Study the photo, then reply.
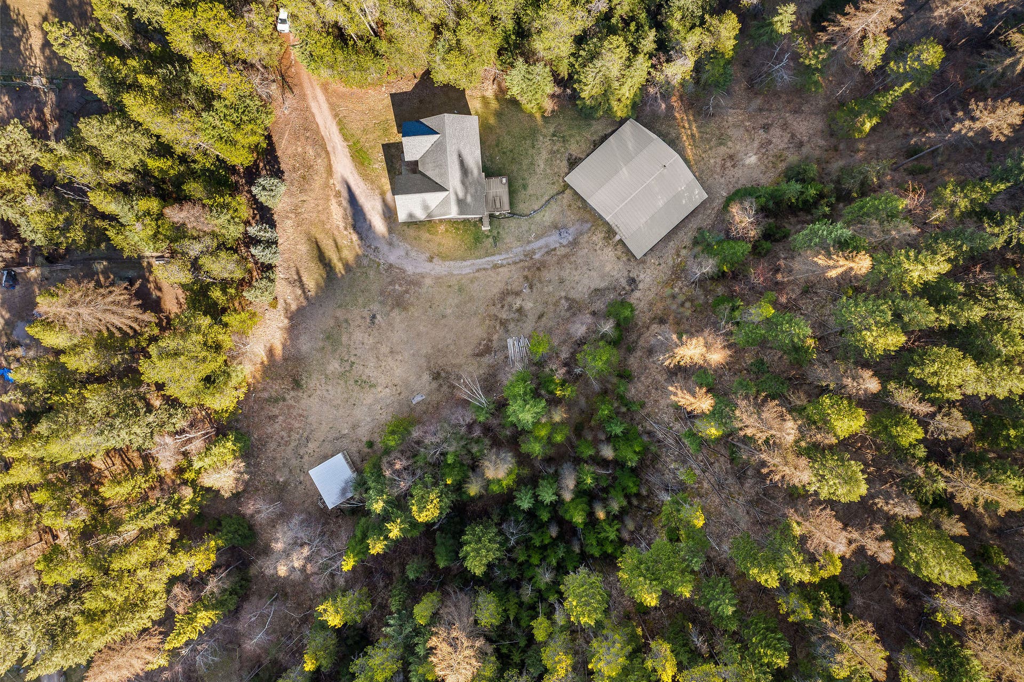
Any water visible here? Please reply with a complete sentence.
No, water can't be seen anywhere here.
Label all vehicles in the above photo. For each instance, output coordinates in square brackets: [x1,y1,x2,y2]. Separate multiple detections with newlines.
[0,264,19,296]
[276,7,292,40]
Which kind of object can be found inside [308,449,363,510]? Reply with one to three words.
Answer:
shed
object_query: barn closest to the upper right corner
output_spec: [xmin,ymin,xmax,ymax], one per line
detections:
[565,117,706,260]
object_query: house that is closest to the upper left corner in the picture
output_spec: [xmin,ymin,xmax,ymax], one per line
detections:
[394,113,512,229]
